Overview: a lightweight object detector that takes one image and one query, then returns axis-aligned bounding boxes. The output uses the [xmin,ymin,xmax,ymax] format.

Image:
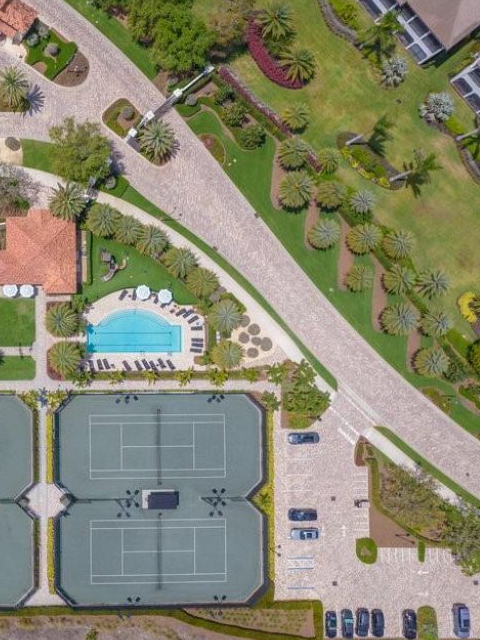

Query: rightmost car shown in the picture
[452,604,471,639]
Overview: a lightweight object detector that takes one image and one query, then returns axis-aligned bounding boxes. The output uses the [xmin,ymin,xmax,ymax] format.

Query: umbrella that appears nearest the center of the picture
[157,289,172,304]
